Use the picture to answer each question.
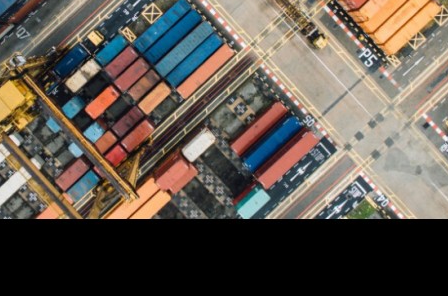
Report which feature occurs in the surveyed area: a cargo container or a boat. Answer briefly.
cargo container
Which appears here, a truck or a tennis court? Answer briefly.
truck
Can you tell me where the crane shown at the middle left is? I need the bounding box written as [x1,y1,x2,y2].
[0,41,151,243]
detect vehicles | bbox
[279,0,327,45]
[81,27,106,53]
